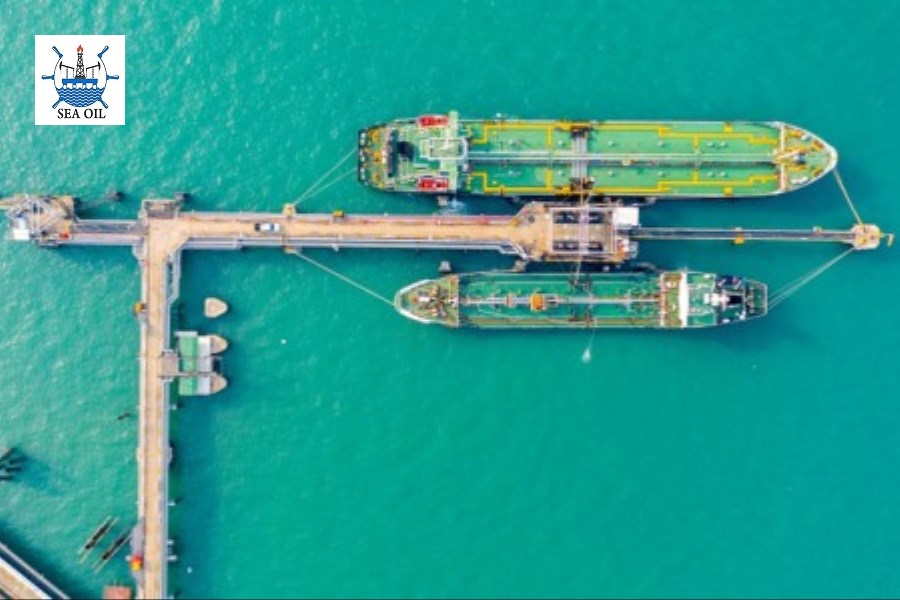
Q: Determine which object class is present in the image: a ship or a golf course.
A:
ship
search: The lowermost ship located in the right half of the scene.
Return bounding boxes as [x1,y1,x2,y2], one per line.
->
[395,266,769,329]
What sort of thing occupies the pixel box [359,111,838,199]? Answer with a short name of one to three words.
ship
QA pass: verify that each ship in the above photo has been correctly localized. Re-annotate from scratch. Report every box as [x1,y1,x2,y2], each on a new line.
[359,111,838,199]
[395,266,769,329]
